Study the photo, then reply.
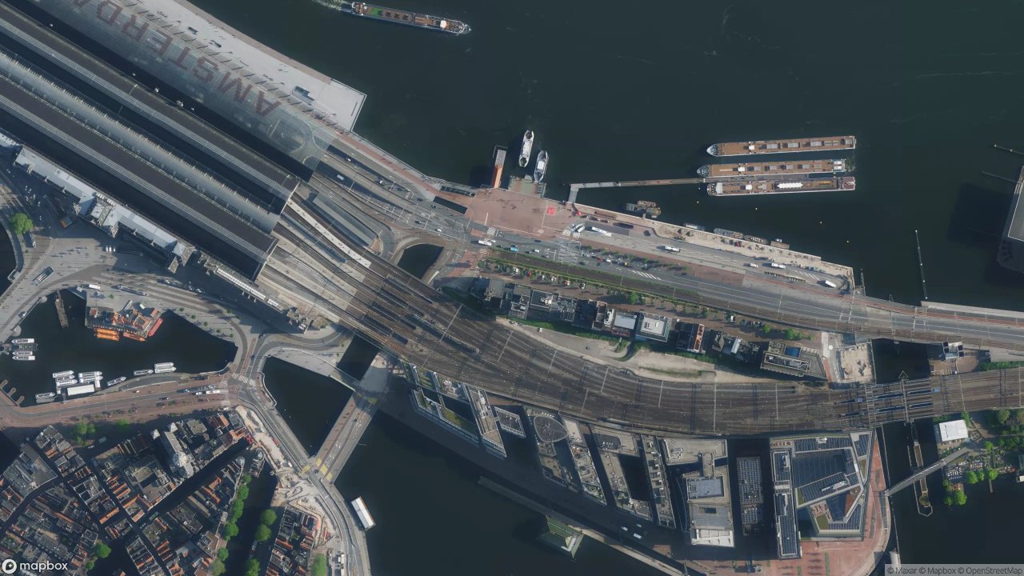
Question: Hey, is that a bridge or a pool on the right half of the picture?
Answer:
bridge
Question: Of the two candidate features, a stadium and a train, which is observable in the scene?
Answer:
train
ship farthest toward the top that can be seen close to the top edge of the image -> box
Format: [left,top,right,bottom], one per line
[349,3,471,34]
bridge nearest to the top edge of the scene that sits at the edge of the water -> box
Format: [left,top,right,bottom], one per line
[851,294,930,346]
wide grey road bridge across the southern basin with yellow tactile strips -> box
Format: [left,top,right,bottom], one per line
[309,379,390,483]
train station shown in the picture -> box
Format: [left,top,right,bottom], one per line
[0,0,376,323]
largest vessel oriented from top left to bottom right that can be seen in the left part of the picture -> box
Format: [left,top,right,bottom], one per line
[351,498,375,527]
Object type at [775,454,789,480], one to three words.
solar array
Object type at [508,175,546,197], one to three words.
pier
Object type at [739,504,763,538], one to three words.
building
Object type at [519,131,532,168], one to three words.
ship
